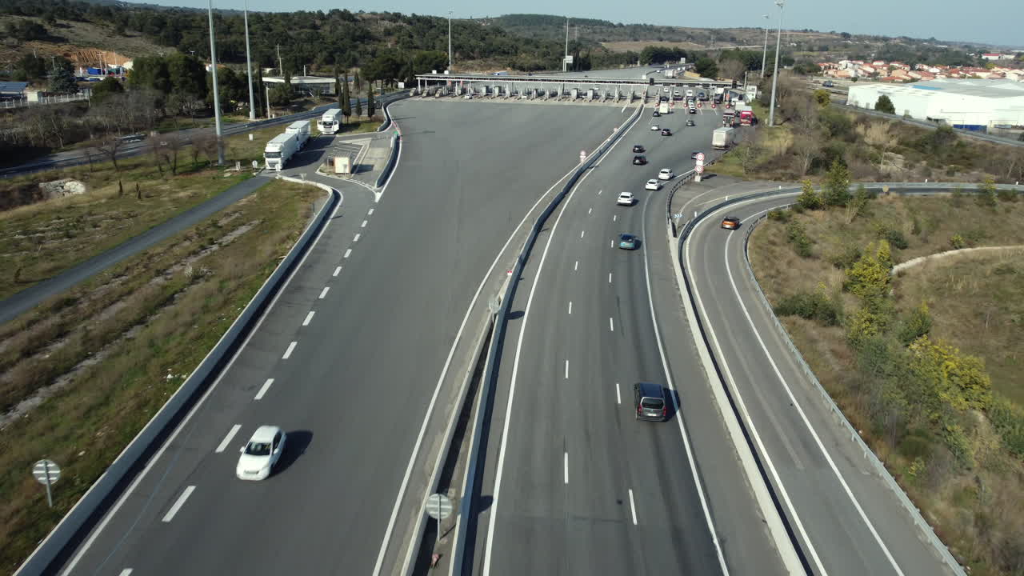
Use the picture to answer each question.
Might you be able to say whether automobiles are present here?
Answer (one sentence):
Yes, the picture does show an automobile.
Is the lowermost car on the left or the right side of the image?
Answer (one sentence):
It is on the left.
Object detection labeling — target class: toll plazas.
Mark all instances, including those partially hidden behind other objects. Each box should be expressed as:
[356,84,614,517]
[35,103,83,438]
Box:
[411,71,749,99]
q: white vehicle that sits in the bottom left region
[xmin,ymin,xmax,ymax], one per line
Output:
[238,425,291,480]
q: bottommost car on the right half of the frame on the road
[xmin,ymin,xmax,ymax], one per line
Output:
[630,379,666,421]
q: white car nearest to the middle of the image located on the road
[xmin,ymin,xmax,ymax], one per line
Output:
[618,190,633,204]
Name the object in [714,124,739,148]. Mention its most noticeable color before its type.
white truck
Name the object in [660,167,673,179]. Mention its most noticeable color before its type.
white vehicle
